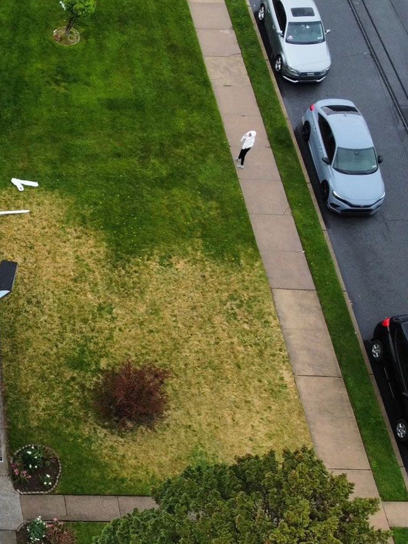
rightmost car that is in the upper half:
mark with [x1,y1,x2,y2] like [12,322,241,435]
[300,99,386,216]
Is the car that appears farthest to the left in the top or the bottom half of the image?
top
